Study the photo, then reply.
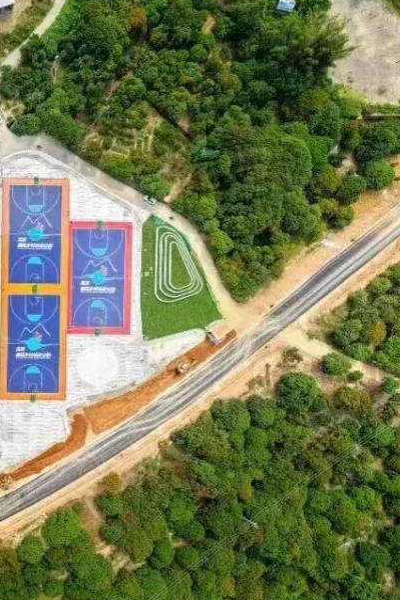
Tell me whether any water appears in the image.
No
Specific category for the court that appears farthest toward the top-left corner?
basketball court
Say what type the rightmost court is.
basketball court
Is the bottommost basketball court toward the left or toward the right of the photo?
left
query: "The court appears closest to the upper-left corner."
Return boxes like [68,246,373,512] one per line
[1,178,70,289]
